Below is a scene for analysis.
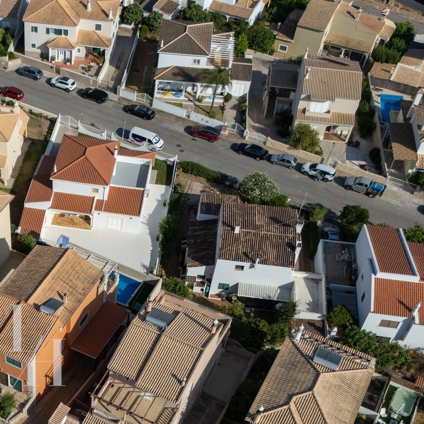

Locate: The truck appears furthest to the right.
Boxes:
[343,174,387,197]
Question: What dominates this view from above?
buildings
